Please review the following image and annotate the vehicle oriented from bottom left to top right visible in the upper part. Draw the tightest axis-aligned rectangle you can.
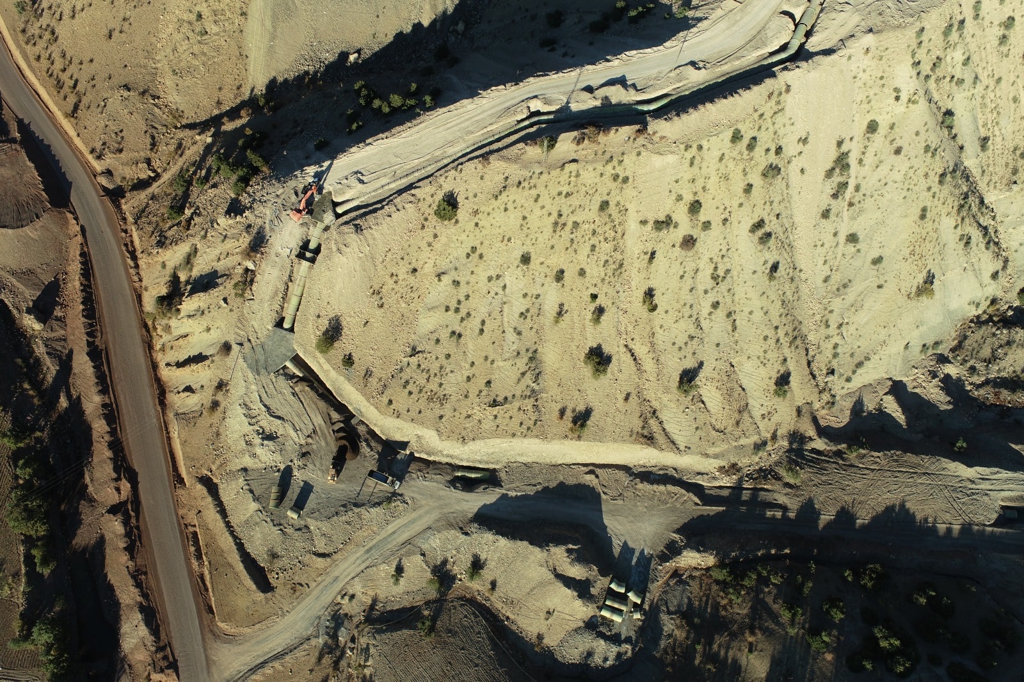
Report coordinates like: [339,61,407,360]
[285,172,322,226]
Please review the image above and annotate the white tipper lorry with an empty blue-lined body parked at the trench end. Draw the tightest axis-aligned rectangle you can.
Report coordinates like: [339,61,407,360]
[363,469,403,493]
